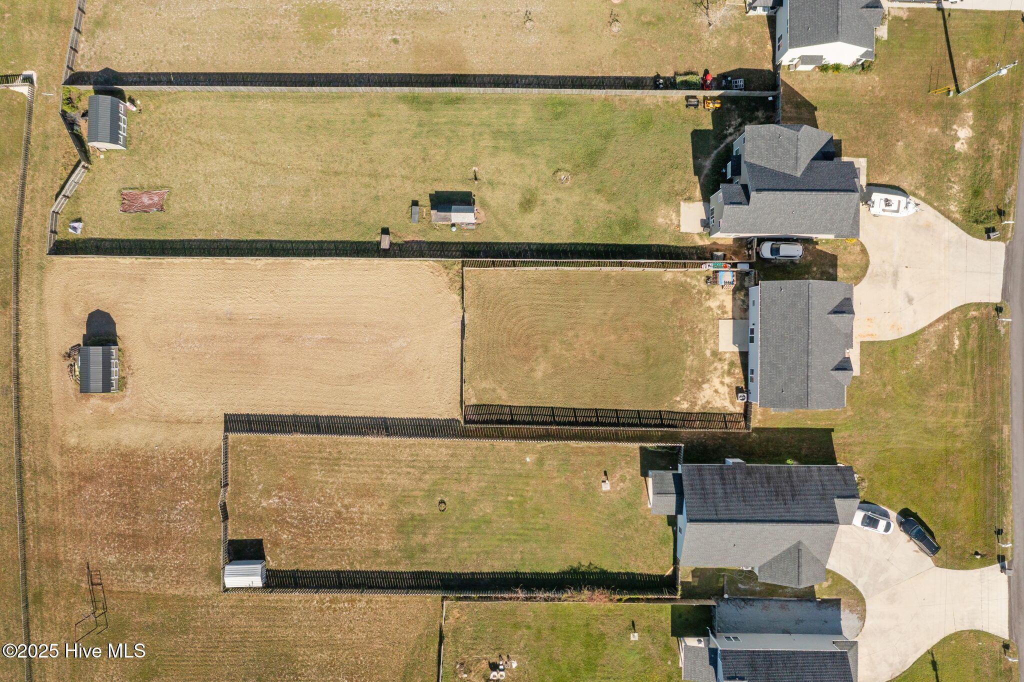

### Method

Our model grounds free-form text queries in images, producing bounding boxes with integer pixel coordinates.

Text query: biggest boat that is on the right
[865,191,925,216]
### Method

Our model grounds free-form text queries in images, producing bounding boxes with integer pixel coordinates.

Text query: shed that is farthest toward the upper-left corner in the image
[87,98,127,154]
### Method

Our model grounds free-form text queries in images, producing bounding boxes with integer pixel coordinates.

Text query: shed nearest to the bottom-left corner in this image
[223,561,267,593]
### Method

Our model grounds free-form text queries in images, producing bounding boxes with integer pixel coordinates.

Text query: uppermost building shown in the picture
[747,0,883,71]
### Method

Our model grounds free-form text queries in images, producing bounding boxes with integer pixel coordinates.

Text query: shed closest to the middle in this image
[431,204,478,223]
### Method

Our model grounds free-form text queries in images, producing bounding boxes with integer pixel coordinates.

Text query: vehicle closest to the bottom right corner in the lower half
[894,516,943,559]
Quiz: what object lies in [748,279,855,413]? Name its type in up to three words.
house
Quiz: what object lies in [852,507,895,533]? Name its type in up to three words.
car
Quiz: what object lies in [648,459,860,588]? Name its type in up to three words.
house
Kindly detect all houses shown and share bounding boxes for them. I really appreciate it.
[648,459,860,588]
[709,124,860,240]
[680,627,858,682]
[747,0,883,71]
[748,279,855,413]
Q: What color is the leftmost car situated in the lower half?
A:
white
